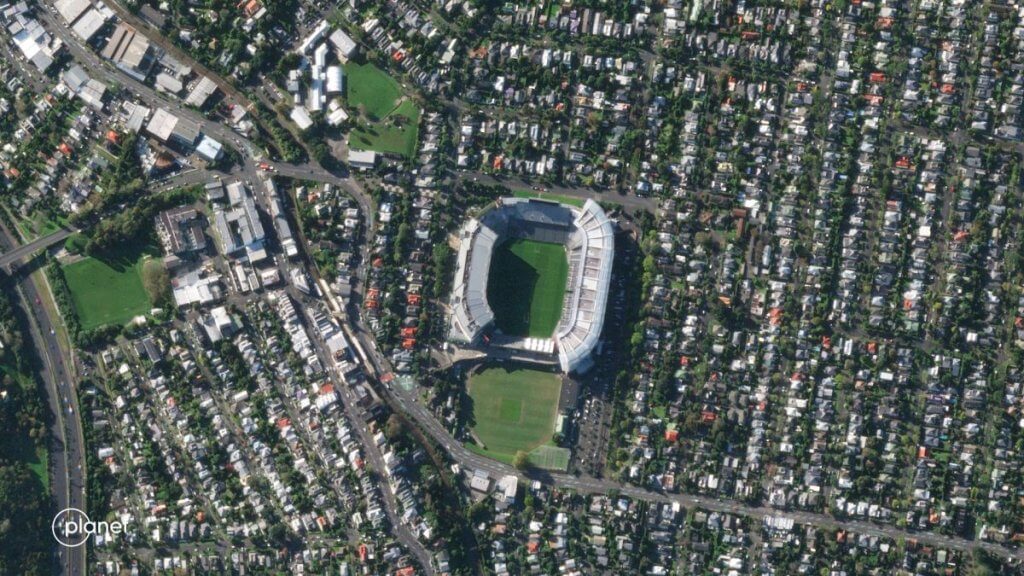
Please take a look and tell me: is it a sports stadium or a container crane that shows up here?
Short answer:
sports stadium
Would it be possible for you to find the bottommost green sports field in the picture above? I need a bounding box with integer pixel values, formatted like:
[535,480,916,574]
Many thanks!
[468,367,562,455]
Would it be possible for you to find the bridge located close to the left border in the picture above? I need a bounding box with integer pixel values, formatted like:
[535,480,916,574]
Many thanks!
[0,225,80,267]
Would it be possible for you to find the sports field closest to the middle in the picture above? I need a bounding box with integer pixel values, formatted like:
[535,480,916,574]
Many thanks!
[488,239,569,338]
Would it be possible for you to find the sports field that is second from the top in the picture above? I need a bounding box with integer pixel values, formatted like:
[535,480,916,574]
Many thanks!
[347,99,419,157]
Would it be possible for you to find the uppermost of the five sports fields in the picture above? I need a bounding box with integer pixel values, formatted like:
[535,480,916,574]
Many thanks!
[345,63,403,125]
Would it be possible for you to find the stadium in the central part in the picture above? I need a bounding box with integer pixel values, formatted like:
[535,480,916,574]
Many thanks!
[448,198,615,374]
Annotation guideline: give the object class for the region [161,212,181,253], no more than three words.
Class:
building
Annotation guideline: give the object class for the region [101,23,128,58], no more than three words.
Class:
shed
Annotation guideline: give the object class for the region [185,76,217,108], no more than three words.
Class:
building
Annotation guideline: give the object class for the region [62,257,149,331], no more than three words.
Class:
sports field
